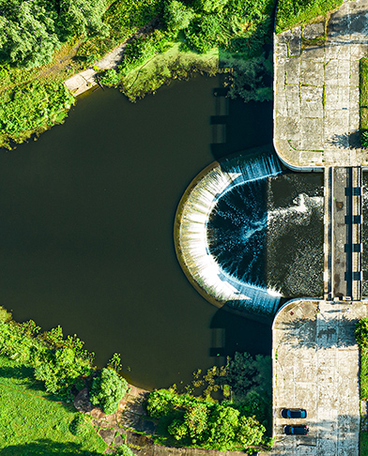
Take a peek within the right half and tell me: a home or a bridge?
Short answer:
bridge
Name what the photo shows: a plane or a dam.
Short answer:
dam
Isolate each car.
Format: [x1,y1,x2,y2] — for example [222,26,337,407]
[284,424,309,436]
[282,407,306,419]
